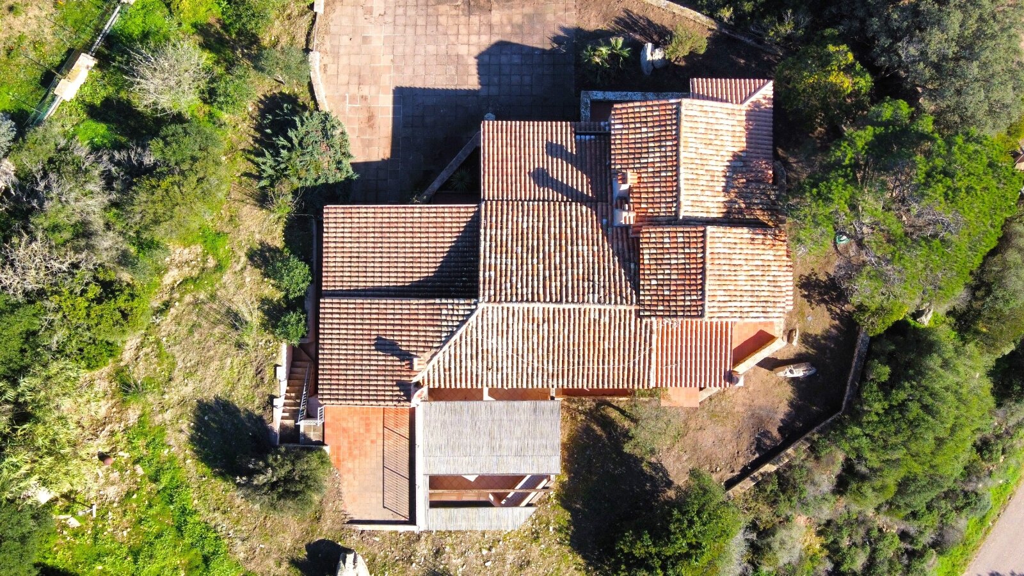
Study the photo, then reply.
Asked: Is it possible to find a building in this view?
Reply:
Yes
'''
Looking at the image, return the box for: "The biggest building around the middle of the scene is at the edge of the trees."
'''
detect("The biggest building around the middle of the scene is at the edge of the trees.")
[315,75,798,408]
